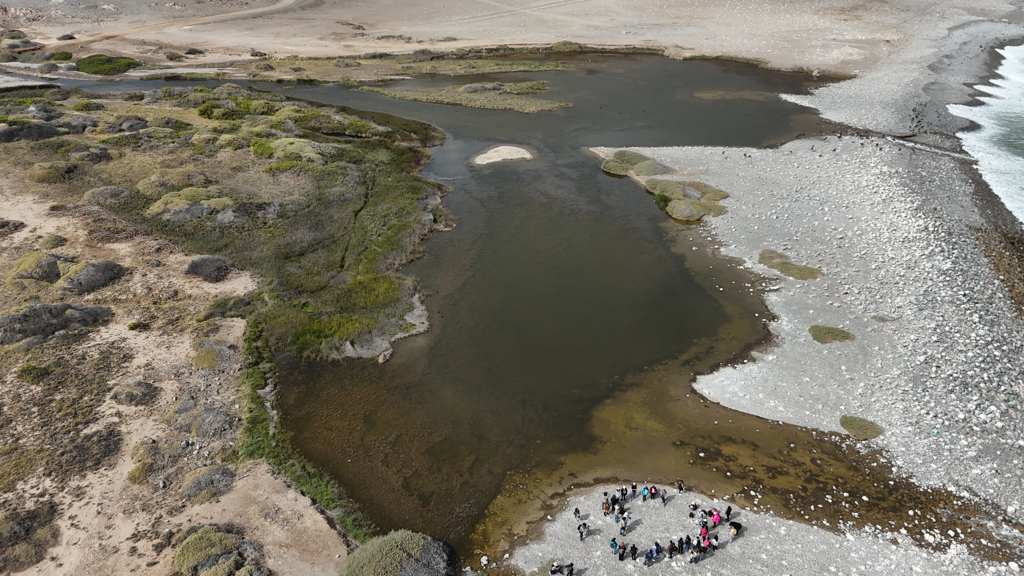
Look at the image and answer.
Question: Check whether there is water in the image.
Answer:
Yes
